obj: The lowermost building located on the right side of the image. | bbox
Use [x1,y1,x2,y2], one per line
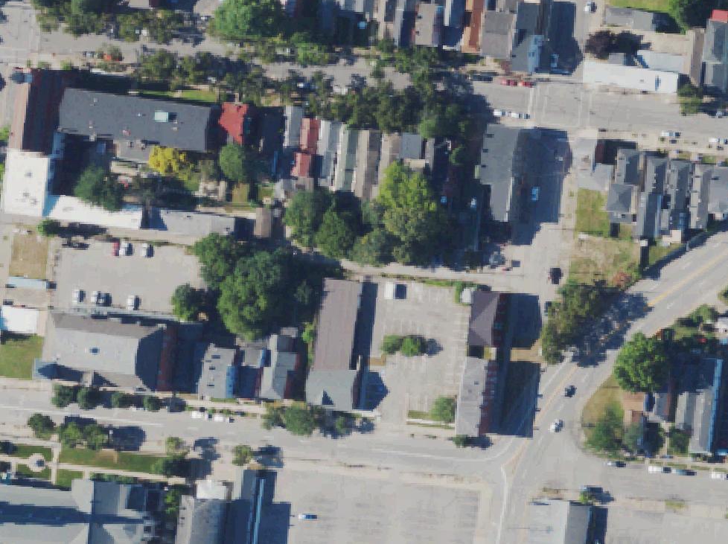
[526,495,595,544]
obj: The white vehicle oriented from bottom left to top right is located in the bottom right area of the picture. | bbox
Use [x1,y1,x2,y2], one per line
[550,417,563,434]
